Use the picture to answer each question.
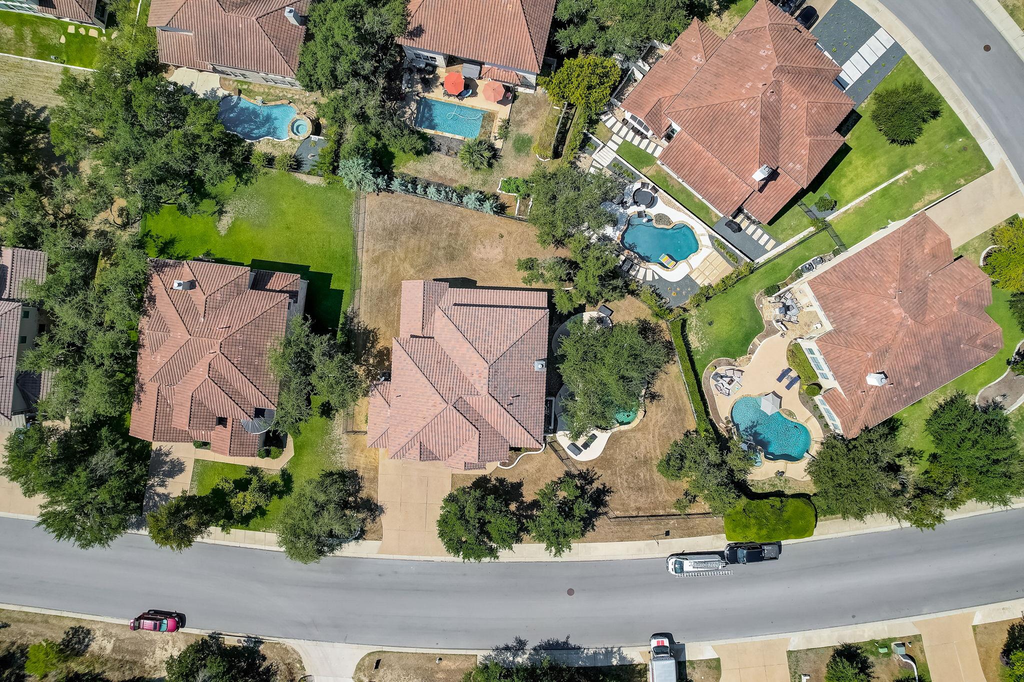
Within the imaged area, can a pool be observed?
Yes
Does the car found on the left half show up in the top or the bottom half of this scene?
bottom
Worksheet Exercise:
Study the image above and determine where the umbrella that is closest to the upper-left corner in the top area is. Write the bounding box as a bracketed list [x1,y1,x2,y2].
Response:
[444,74,465,96]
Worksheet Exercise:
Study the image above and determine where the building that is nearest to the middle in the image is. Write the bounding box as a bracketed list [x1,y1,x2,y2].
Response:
[368,280,550,470]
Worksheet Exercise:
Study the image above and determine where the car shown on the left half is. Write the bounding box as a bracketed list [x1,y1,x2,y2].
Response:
[126,610,184,637]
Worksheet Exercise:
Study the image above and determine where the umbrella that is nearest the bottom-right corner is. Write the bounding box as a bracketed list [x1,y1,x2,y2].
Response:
[759,391,781,414]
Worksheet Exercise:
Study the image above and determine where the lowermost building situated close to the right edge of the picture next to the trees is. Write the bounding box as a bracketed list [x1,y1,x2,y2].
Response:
[793,211,1005,436]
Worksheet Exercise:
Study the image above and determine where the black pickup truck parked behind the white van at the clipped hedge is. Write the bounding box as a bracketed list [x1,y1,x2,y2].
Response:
[724,542,783,569]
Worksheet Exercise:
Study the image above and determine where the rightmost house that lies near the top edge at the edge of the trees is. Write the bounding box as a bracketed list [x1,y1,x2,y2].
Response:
[620,0,856,225]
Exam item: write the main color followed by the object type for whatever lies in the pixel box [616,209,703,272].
blue swimming pool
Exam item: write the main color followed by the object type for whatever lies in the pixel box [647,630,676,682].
white truck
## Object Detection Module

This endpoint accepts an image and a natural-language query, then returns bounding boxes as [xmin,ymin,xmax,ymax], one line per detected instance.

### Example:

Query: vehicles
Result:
[666,550,729,583]
[647,630,676,682]
[126,610,184,637]
[724,542,783,569]
[789,0,825,29]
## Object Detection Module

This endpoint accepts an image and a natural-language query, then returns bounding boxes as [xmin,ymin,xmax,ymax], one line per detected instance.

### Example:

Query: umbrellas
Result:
[482,81,505,104]
[444,74,465,96]
[759,391,781,414]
